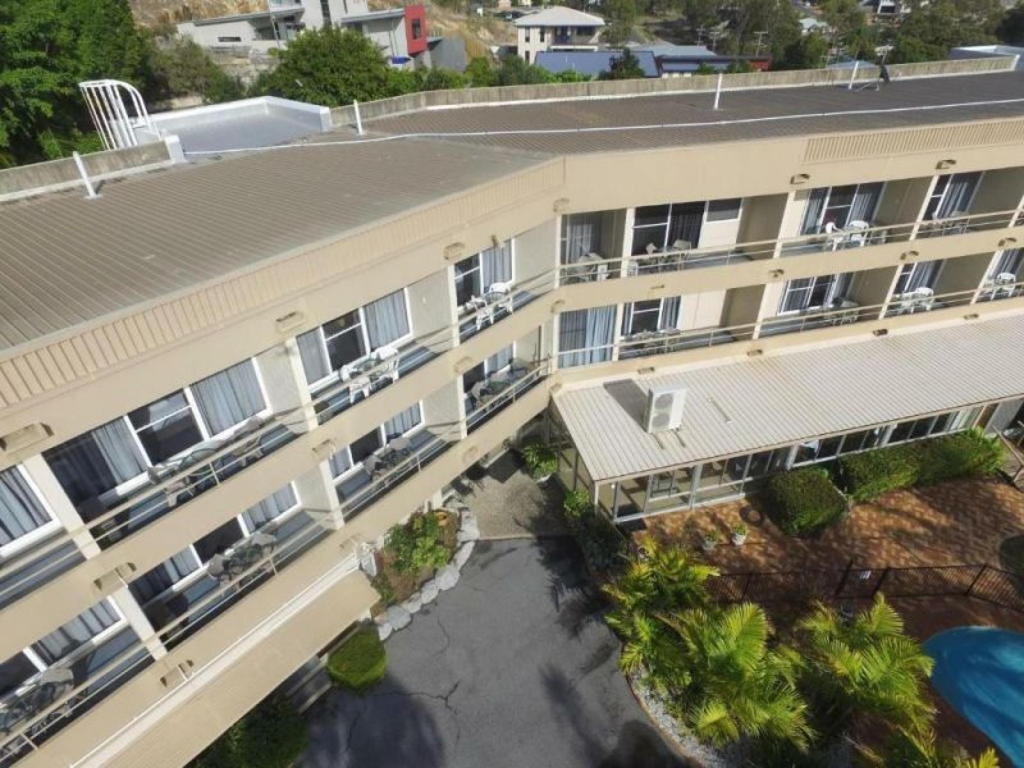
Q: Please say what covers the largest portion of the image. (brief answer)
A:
buildings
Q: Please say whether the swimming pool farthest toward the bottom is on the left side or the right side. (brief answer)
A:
right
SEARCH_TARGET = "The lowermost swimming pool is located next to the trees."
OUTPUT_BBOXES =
[920,623,1024,768]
